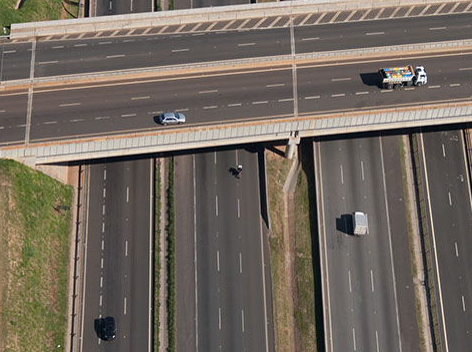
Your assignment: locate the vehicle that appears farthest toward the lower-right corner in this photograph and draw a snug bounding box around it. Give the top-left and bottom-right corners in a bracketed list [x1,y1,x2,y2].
[352,213,367,236]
